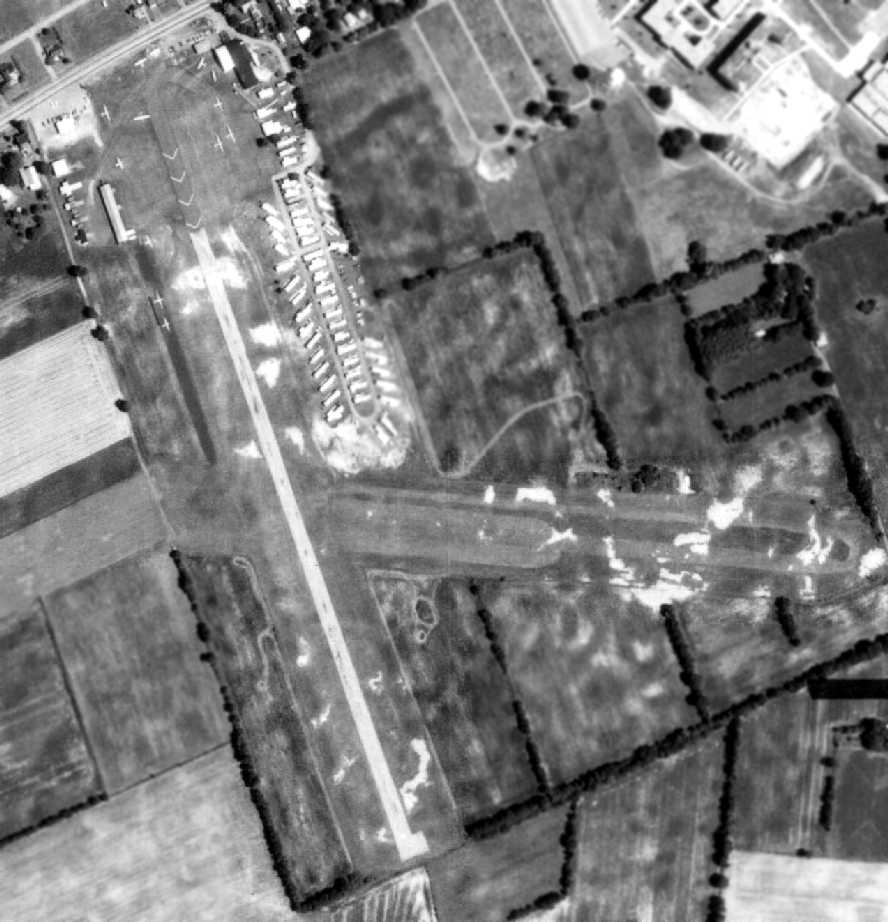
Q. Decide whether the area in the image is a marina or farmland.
farmland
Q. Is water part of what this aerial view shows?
No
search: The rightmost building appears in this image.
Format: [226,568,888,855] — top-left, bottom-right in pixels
[852,50,888,134]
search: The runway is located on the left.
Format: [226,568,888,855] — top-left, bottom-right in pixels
[191,229,429,861]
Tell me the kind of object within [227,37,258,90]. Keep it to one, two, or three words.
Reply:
hangar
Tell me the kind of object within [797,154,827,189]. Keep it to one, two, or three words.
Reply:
shed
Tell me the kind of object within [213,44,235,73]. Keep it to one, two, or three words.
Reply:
hangar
